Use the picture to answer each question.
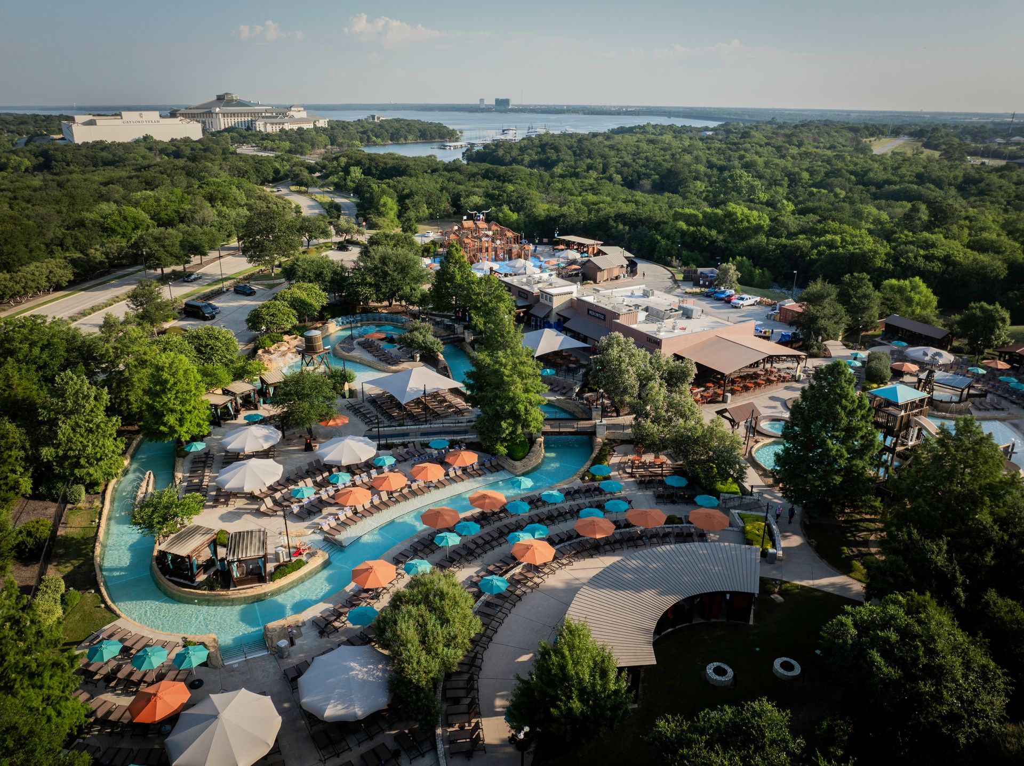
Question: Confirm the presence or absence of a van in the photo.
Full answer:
Yes, the image includes a van.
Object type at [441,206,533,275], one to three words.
playground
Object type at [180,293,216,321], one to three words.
van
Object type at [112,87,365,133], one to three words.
building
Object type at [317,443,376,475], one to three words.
umbrella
